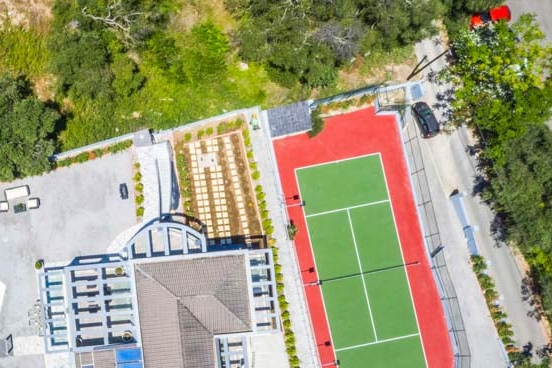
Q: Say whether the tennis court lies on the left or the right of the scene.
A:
right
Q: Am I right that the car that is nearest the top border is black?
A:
No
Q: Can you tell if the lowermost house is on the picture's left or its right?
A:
left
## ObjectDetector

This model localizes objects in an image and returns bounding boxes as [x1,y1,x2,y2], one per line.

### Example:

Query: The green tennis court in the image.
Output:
[276,108,446,368]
